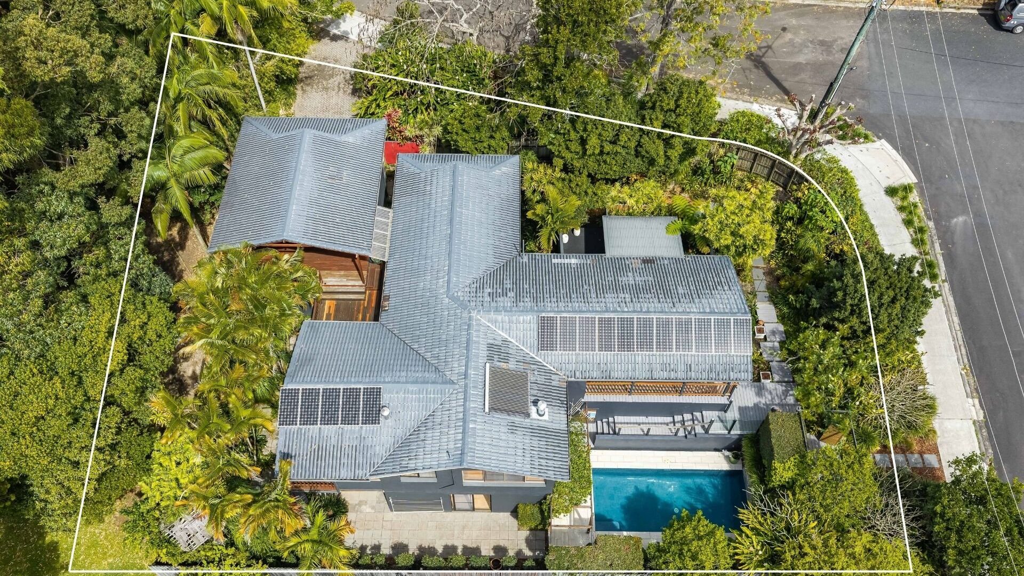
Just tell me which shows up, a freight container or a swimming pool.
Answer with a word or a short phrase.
swimming pool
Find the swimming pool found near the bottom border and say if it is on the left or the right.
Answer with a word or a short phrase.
right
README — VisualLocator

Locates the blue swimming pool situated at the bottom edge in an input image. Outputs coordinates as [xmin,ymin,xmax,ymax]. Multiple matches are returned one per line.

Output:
[582,449,757,551]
